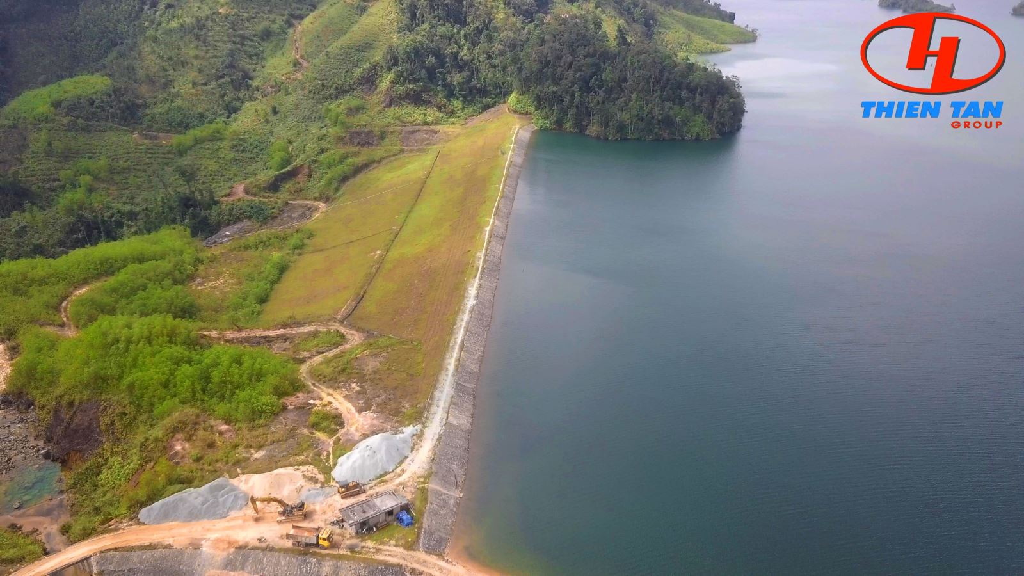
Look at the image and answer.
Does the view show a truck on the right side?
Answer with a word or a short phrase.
No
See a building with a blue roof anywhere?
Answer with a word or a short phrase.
No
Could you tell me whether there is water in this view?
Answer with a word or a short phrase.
Yes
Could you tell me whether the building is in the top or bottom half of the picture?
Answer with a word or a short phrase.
bottom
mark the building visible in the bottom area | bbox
[344,484,412,534]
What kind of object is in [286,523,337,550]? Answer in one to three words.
truck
